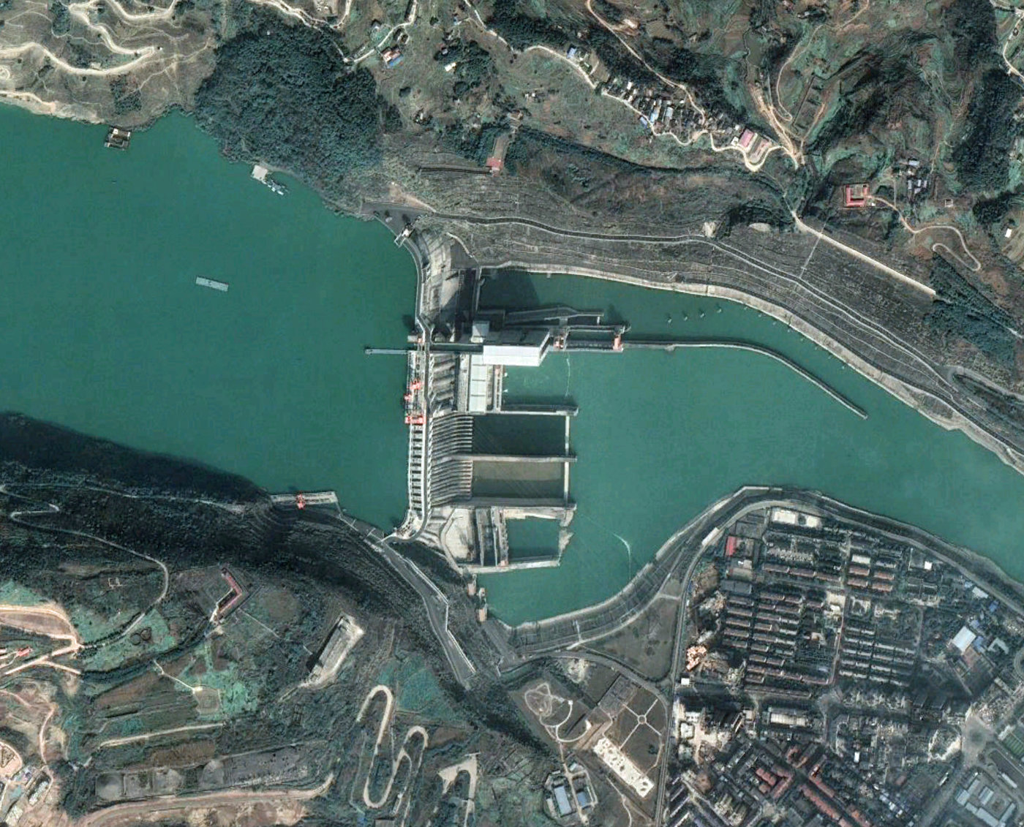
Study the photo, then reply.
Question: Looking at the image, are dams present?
Yes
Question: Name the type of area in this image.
port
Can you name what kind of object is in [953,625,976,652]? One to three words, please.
building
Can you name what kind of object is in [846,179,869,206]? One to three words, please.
house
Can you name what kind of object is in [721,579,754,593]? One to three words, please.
building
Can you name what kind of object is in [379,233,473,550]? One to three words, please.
dam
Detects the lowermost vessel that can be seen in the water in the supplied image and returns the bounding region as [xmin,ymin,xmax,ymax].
[196,277,228,291]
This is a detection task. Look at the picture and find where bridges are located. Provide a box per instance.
[432,334,486,354]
